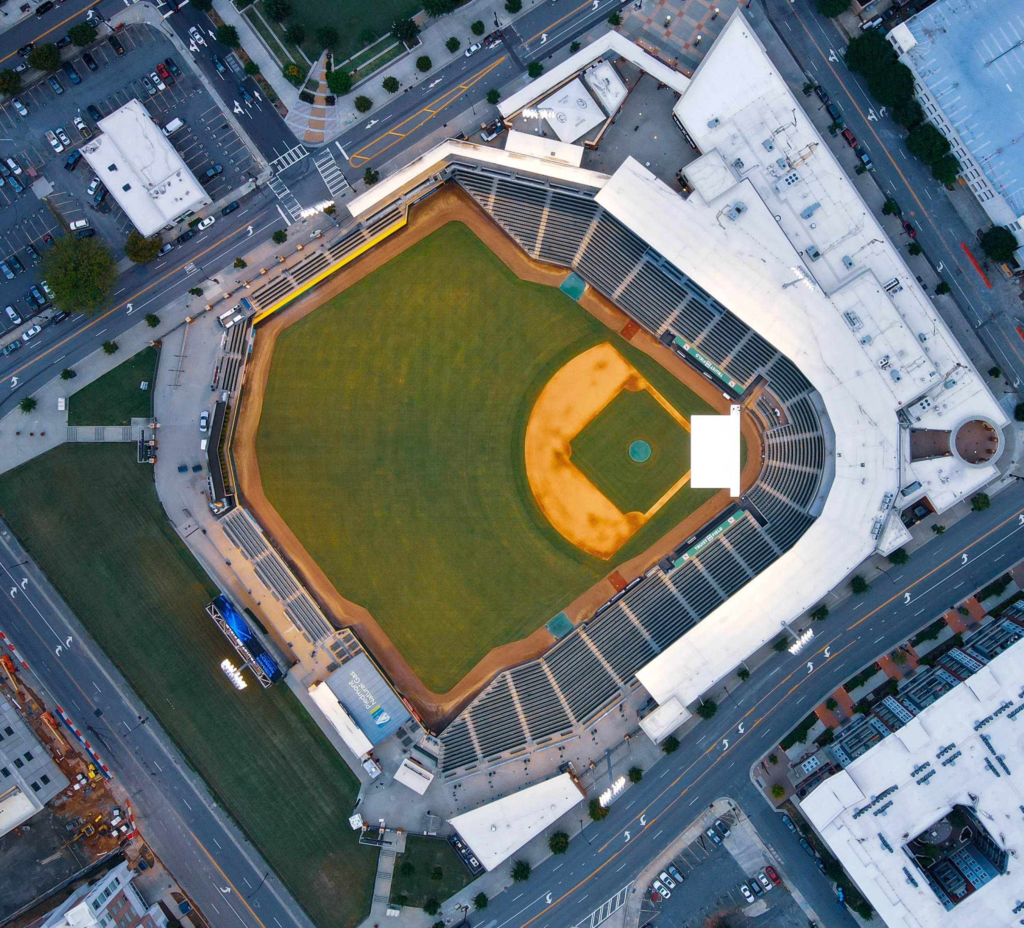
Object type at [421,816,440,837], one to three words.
shed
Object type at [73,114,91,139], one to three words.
vehicle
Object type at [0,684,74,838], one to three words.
building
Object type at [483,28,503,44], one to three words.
car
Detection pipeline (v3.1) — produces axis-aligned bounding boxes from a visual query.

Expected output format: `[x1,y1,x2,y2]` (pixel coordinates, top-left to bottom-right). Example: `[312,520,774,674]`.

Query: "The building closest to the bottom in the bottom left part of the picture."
[29,854,150,928]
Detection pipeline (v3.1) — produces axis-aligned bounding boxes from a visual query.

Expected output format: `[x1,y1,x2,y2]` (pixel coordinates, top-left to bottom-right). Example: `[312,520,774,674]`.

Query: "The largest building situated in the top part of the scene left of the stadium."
[79,97,211,237]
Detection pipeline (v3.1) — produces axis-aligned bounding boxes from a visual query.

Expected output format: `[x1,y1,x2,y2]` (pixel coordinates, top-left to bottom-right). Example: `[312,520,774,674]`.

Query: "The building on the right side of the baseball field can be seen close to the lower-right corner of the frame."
[781,600,1024,928]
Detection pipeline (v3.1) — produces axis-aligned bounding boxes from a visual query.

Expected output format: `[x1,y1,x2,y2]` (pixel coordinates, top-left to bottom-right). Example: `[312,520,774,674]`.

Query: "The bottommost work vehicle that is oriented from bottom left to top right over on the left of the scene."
[60,824,96,851]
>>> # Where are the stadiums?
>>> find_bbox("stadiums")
[206,6,1012,872]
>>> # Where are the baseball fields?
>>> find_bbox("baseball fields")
[233,173,764,739]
